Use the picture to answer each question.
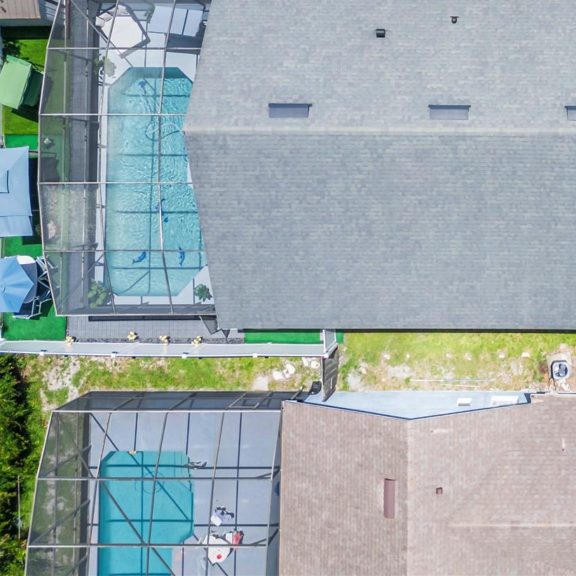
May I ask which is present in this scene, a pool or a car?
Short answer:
pool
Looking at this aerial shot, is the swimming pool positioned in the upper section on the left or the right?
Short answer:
left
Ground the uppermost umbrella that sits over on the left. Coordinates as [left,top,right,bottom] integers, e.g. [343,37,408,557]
[0,147,59,217]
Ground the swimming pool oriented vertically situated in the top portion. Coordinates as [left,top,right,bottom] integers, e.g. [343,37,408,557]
[106,68,208,296]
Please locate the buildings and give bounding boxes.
[0,0,65,22]
[182,0,576,331]
[281,391,576,576]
